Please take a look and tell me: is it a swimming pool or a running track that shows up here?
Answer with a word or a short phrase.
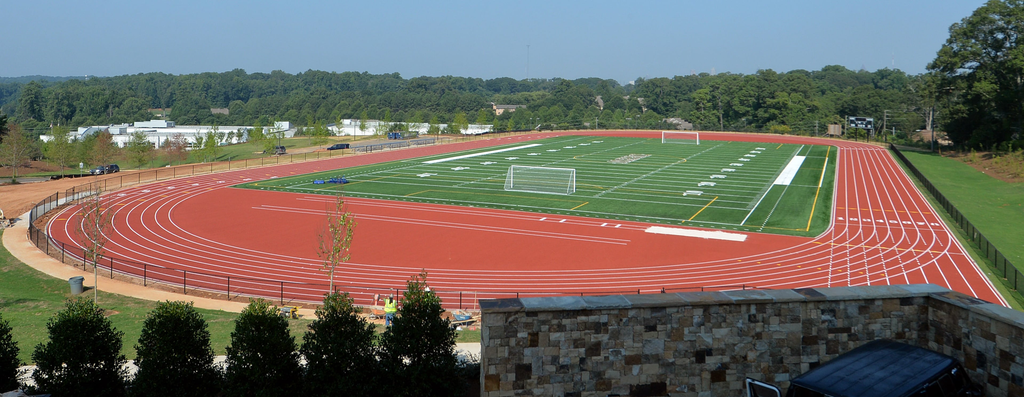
running track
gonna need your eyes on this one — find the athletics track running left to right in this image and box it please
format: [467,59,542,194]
[45,131,1003,313]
